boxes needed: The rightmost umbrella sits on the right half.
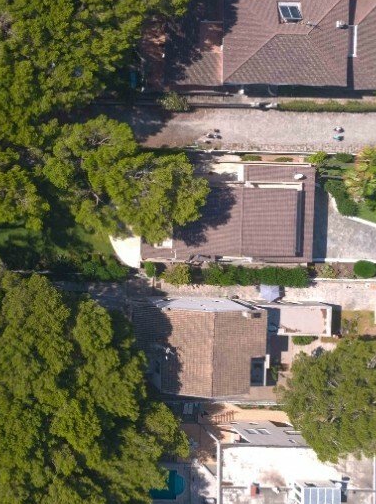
[258,285,279,301]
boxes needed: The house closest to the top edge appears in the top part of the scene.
[166,0,376,90]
